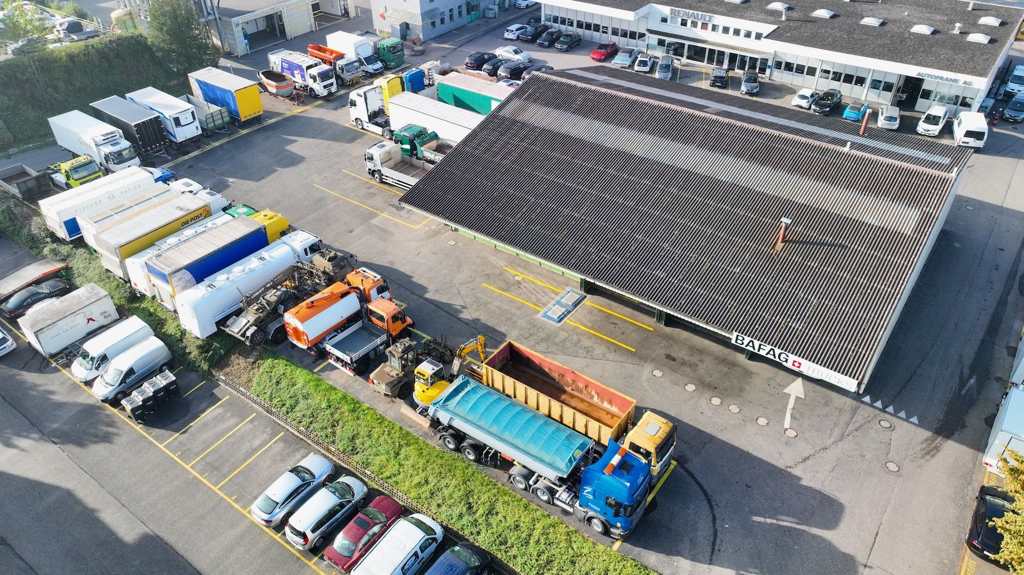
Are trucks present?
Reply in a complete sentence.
Yes, a truck can be made out from above.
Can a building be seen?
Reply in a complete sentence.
Yes, you can see a building in this photo.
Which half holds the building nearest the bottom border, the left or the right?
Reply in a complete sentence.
The building nearest the bottom border appears in the right half of the scene.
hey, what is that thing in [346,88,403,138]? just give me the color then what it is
white truck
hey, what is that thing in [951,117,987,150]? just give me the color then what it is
white van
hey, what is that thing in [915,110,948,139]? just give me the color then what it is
white car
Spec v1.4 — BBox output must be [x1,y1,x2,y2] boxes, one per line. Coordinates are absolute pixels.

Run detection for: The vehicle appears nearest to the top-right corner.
[1002,67,1024,97]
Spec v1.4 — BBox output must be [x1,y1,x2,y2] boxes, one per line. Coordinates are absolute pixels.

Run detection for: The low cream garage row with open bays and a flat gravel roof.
[186,0,371,57]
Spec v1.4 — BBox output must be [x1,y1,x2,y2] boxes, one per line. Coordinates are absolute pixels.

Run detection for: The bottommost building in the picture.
[398,64,972,408]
